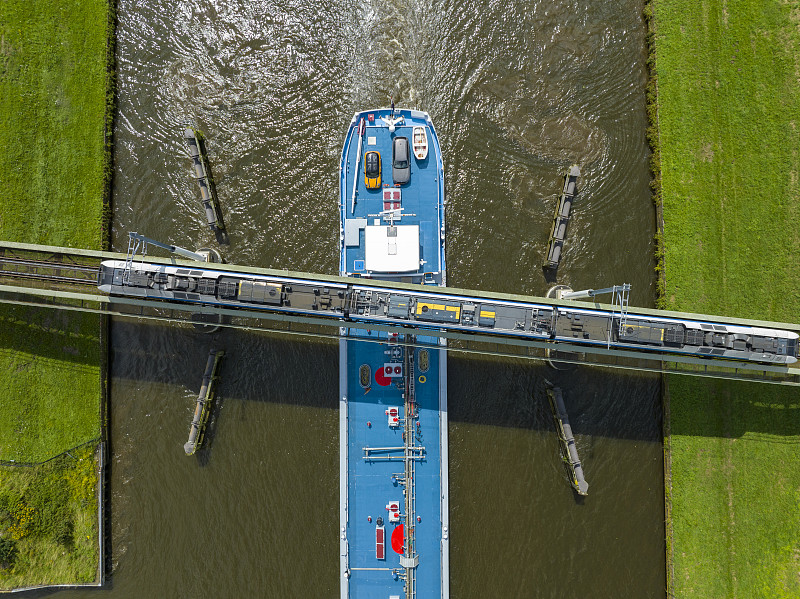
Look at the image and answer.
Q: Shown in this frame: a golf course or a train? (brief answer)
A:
train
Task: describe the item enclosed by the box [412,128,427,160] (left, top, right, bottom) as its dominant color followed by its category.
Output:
white boat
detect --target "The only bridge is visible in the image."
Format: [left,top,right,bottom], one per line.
[0,241,800,387]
